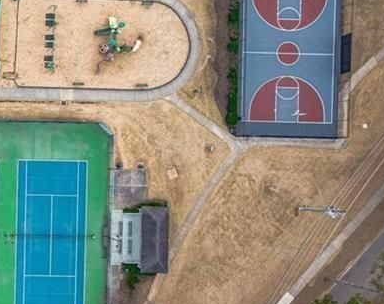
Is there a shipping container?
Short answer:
No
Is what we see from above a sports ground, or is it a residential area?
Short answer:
sports ground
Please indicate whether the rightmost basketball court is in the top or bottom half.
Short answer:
top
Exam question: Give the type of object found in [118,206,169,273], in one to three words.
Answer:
building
